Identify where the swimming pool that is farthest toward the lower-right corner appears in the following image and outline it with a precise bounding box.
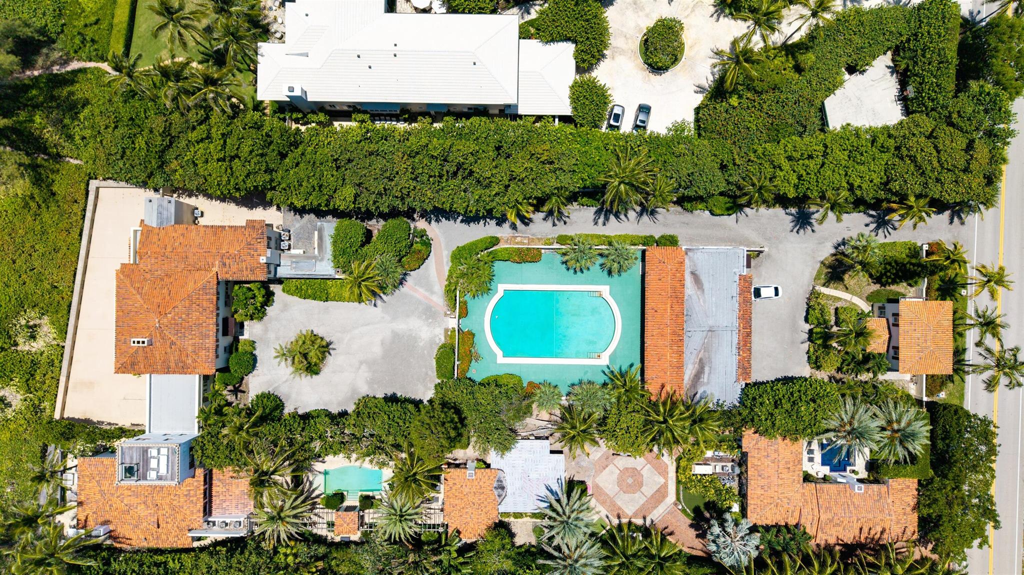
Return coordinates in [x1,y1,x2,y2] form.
[821,443,855,472]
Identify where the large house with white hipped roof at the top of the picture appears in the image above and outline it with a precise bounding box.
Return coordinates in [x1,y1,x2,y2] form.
[257,0,575,122]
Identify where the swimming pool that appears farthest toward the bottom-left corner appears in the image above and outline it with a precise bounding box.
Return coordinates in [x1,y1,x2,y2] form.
[325,466,382,500]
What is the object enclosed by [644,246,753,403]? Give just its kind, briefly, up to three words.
building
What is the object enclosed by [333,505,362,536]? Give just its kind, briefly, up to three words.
building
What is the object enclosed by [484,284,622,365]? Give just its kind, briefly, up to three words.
swimming pool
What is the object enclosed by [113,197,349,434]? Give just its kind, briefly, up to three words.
house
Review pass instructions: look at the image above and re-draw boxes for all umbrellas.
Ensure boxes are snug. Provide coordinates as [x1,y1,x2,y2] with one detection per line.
[411,0,434,12]
[432,0,448,13]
